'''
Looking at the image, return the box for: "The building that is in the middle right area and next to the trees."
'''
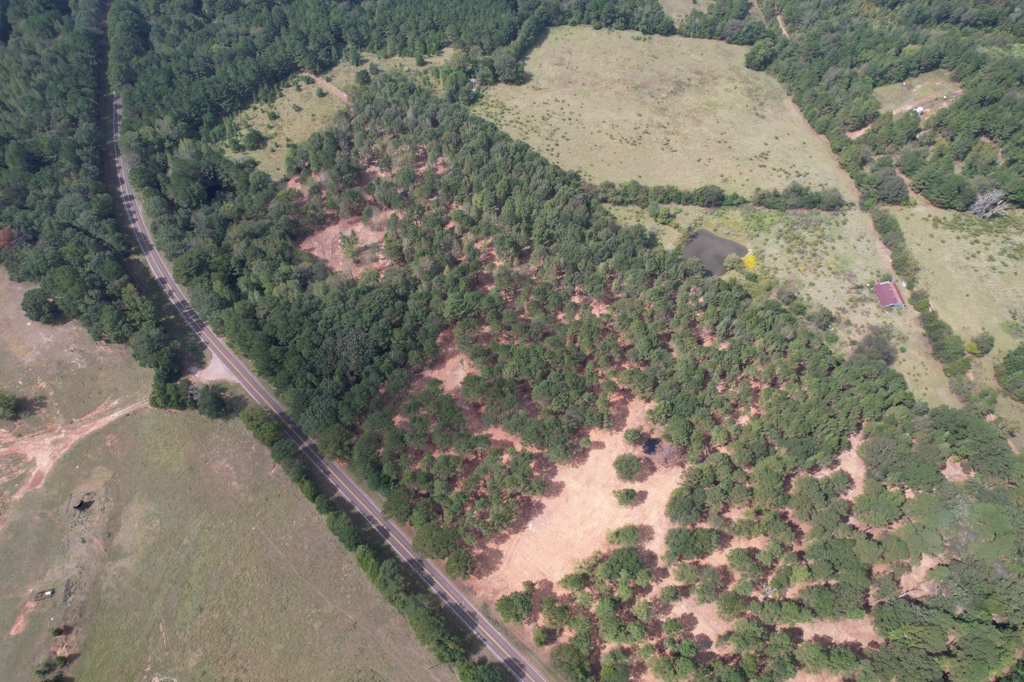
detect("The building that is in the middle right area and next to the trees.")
[870,284,910,309]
